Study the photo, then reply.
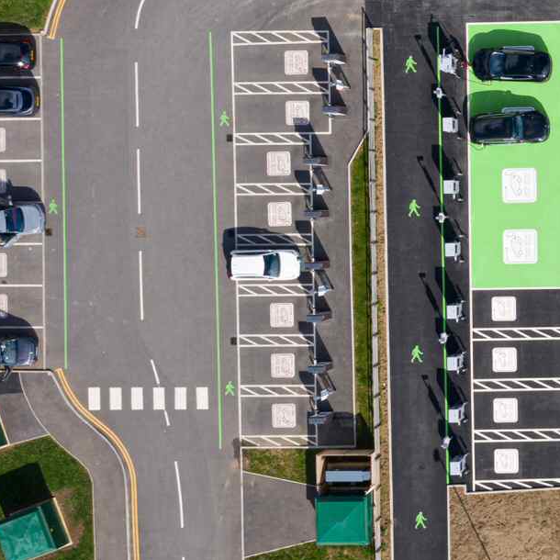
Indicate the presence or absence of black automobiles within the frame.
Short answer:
Yes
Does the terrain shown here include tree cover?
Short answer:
No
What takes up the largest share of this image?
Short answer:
paved ground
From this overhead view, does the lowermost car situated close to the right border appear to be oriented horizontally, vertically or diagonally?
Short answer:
horizontally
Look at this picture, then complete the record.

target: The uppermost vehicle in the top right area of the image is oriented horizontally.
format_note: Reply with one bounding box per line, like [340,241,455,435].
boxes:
[475,44,551,81]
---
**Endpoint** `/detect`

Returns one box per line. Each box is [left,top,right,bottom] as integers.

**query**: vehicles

[0,334,41,382]
[0,85,39,117]
[0,194,46,250]
[475,44,551,81]
[0,39,36,70]
[228,247,302,284]
[468,107,550,144]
